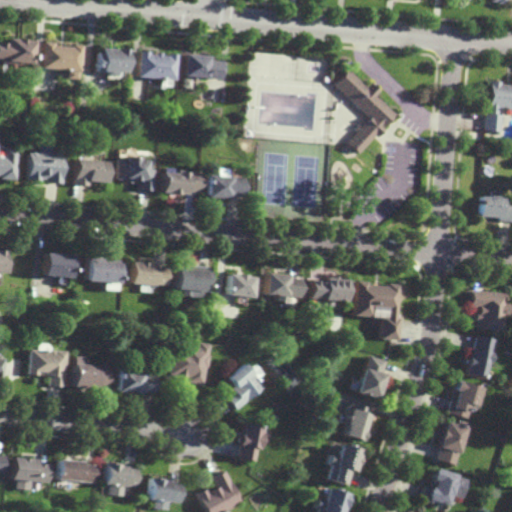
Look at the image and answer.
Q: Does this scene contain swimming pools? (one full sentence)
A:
Yes, a swimming pool can be made out from above.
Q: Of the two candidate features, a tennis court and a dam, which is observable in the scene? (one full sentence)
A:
Looking from above, you can make out a tennis court.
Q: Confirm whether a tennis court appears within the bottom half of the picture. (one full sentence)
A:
No, looking within the bottom half of the picture, there is no tennis court.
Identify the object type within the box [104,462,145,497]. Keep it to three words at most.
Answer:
house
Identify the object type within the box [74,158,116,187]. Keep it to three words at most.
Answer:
house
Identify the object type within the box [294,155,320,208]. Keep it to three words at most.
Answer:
tennis court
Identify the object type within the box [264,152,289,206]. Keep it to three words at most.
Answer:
tennis court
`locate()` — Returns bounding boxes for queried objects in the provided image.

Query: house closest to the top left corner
[0,37,41,66]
